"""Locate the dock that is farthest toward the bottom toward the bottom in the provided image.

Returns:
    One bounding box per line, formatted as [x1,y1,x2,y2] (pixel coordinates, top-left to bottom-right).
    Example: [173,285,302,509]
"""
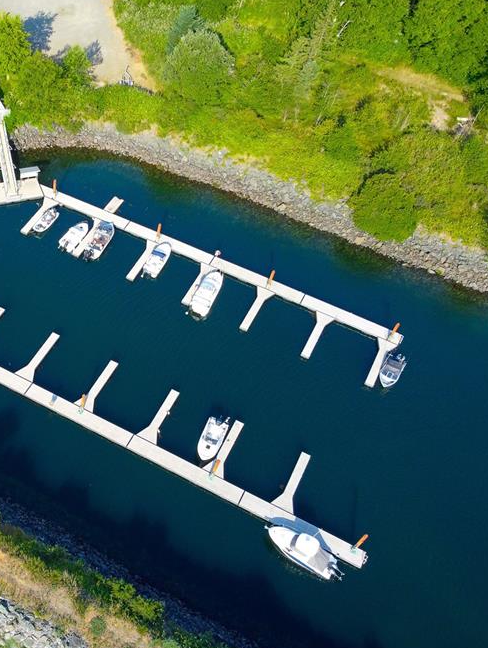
[0,308,366,571]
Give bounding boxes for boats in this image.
[201,411,235,463]
[183,267,226,324]
[83,220,114,264]
[31,204,61,233]
[378,351,408,389]
[141,237,171,284]
[57,219,88,255]
[268,522,343,588]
